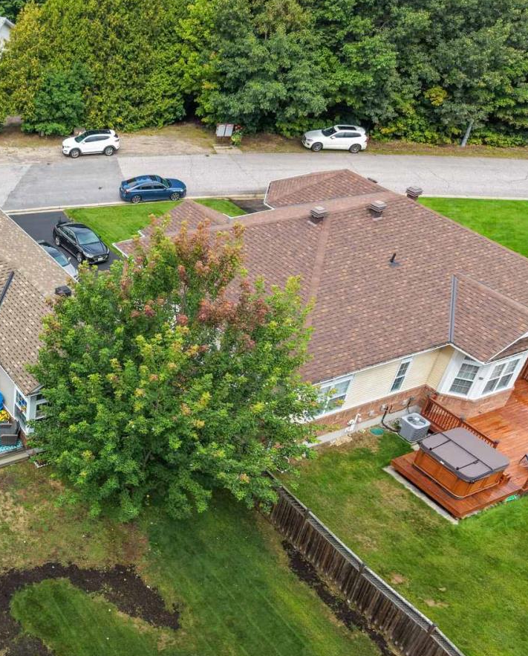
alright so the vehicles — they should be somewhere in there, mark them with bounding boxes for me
[59,129,121,158]
[48,216,113,260]
[28,232,80,276]
[303,125,370,153]
[116,172,188,200]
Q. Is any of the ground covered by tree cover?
Yes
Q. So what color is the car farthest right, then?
white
